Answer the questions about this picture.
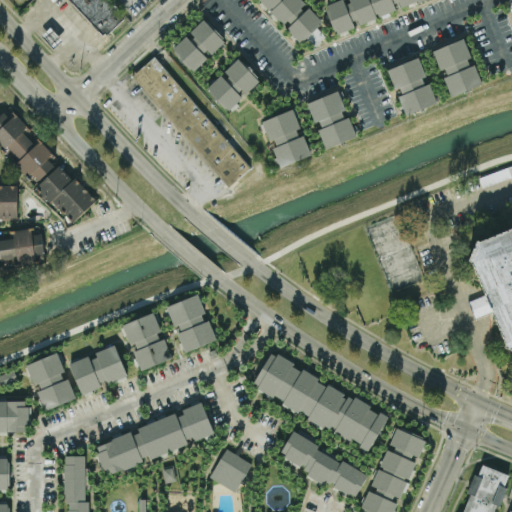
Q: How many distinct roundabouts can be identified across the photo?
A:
0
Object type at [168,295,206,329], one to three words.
house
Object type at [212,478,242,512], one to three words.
swimming pool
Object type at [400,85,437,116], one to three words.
house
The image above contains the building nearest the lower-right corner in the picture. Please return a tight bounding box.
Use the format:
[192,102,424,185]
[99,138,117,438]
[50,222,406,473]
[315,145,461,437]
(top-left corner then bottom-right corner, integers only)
[462,464,508,512]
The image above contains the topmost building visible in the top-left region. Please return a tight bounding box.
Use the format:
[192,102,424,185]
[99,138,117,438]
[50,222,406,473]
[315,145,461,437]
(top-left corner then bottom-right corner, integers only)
[70,0,124,35]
